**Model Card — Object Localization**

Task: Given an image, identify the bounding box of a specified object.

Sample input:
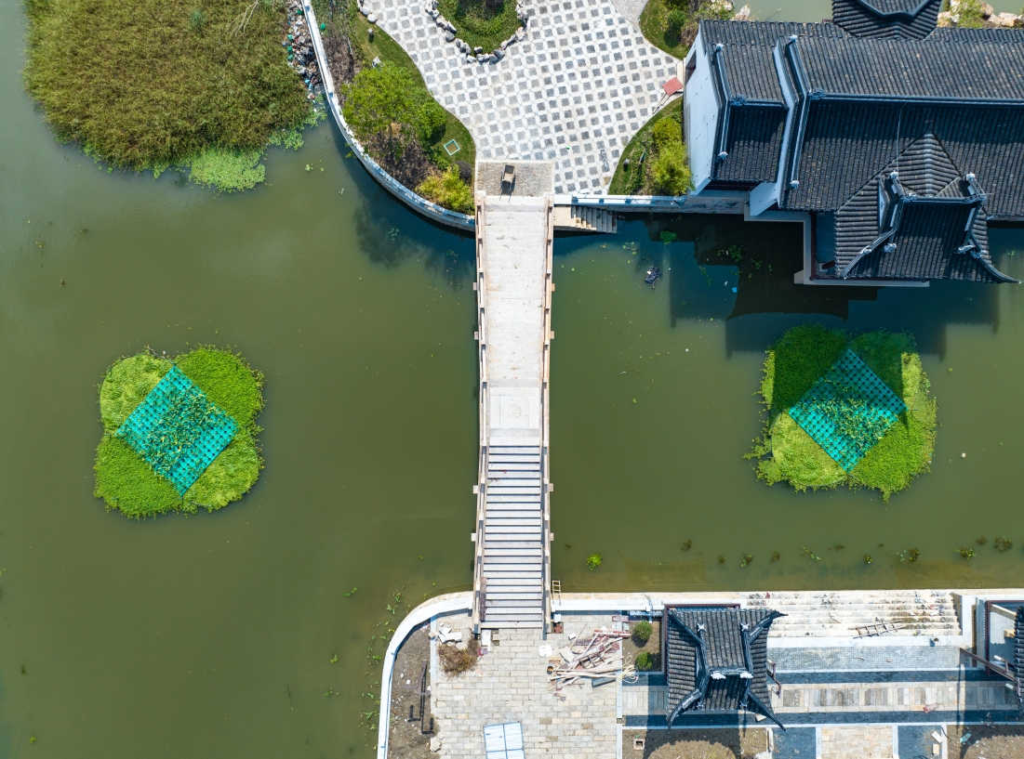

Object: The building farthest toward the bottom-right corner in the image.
[969,600,1024,730]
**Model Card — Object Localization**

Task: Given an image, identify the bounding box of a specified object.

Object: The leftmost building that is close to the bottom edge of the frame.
[661,598,789,734]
